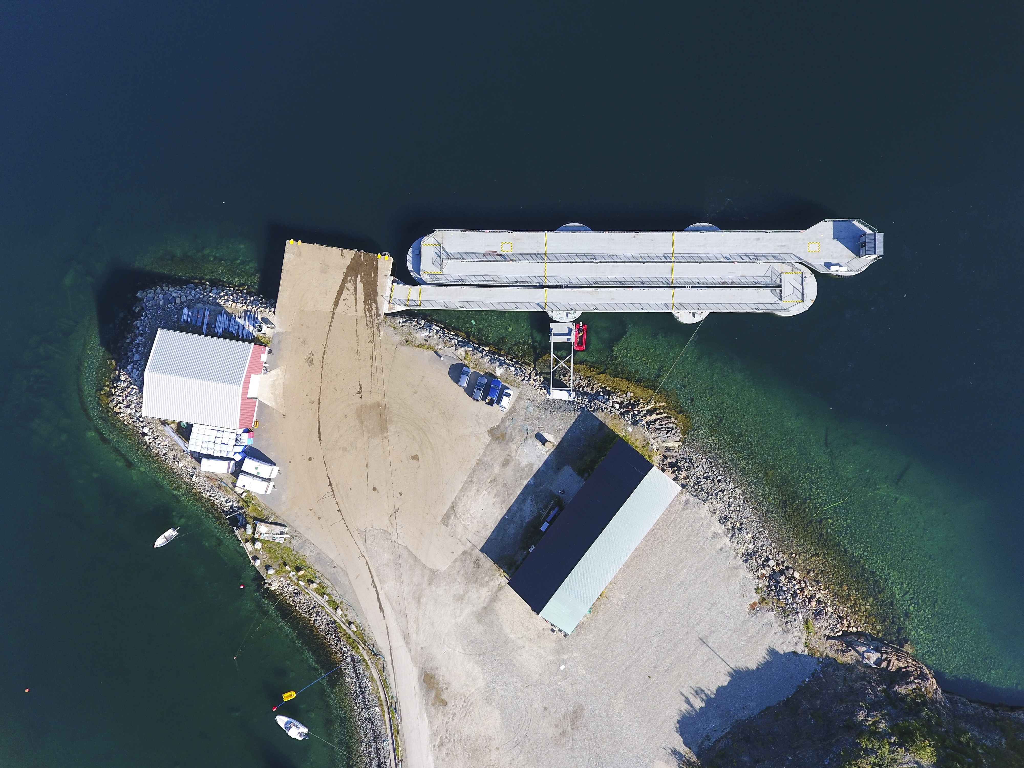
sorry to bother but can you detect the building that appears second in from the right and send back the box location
[507,439,682,633]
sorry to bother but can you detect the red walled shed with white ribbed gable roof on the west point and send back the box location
[143,327,266,432]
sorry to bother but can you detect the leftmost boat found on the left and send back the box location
[154,527,178,548]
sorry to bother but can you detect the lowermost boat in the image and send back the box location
[275,715,307,742]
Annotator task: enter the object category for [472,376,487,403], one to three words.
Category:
car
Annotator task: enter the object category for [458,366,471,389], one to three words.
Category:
vehicle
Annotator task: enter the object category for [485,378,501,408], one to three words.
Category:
vehicle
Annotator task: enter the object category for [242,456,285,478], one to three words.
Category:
camper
